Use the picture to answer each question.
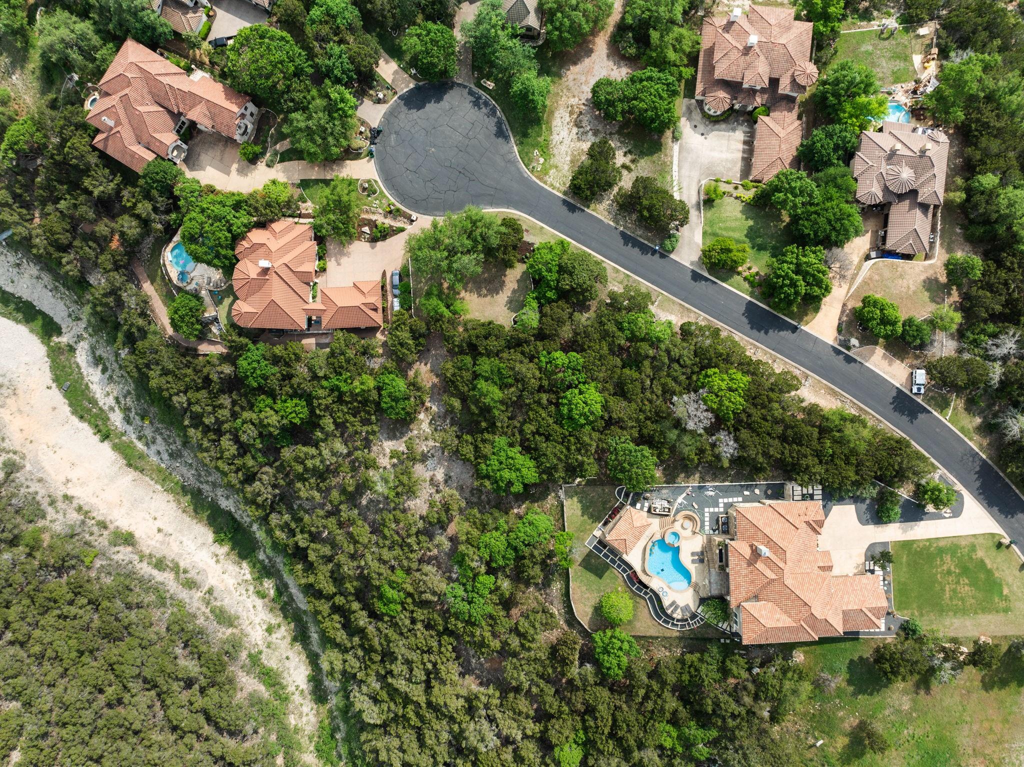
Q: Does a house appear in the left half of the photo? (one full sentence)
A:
Yes, I can see a house in the left half of the photo.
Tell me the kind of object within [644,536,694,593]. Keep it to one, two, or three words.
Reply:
swimming pool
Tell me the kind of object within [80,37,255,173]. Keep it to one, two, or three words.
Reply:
house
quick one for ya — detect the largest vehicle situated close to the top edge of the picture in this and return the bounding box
[210,33,236,49]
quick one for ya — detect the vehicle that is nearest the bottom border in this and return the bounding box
[911,366,927,393]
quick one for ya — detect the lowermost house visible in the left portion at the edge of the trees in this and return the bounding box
[229,220,383,329]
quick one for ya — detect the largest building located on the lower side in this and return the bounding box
[723,499,888,645]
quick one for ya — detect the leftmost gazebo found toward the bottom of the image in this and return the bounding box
[604,506,652,556]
